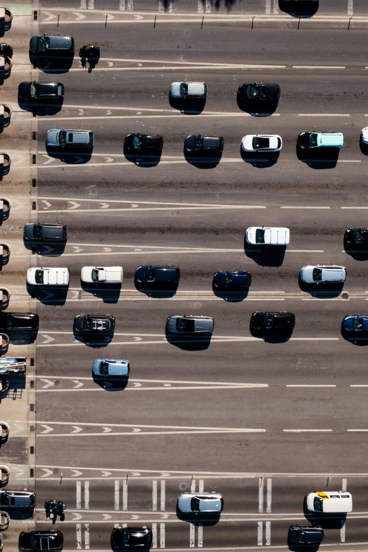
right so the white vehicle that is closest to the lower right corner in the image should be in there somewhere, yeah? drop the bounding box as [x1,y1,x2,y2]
[305,491,353,516]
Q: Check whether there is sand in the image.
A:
No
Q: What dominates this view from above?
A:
paved ground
